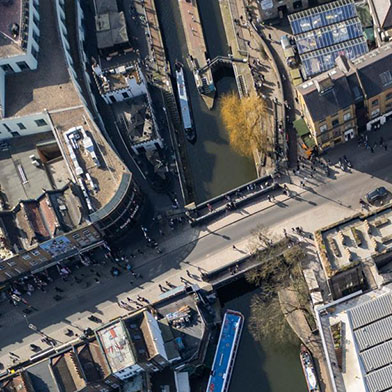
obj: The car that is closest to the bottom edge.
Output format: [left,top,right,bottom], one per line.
[365,184,390,201]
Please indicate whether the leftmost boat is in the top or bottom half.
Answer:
top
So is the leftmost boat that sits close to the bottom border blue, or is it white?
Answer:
blue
